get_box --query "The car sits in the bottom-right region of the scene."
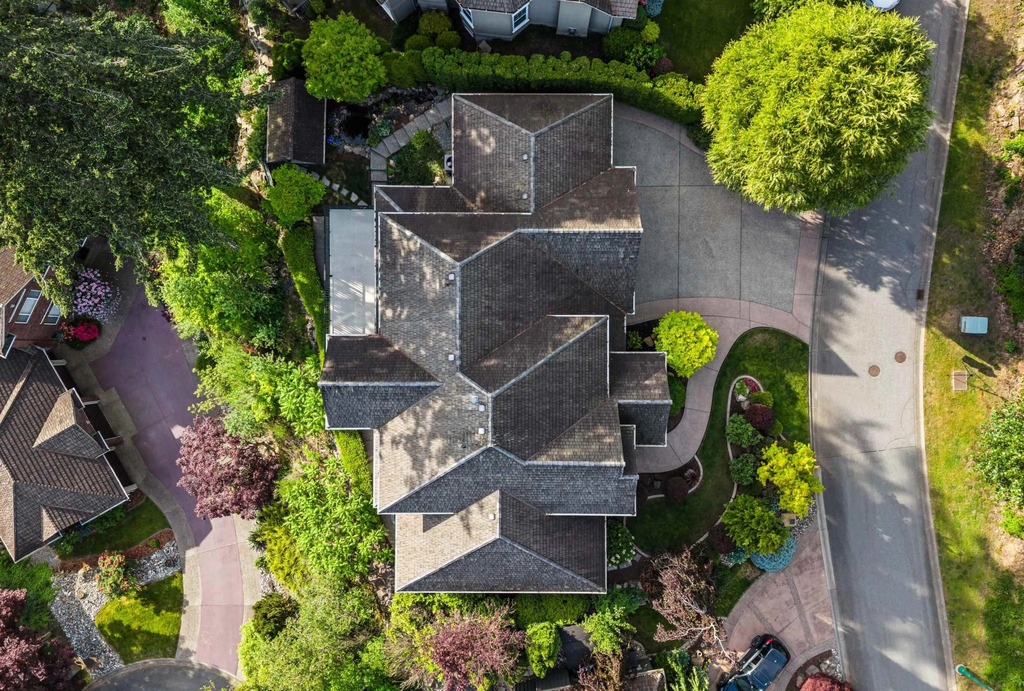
[722,633,795,691]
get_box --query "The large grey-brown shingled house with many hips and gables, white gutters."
[319,92,673,595]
